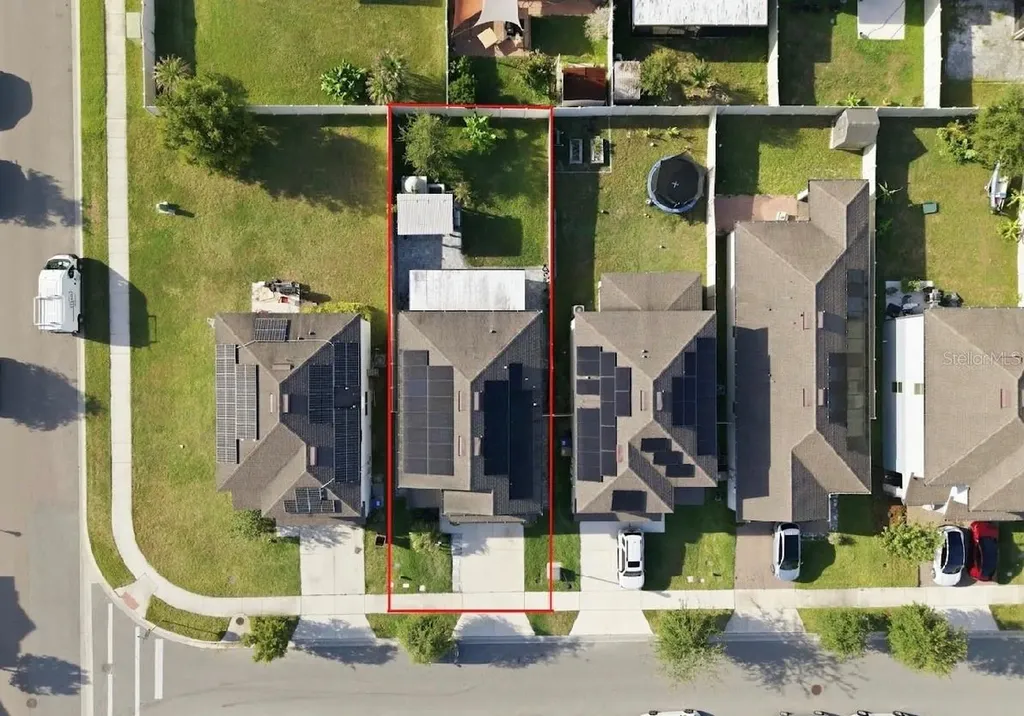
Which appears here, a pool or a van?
van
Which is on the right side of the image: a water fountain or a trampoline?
trampoline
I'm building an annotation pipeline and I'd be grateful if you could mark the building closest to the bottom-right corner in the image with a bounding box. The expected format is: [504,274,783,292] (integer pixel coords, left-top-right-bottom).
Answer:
[884,307,1024,521]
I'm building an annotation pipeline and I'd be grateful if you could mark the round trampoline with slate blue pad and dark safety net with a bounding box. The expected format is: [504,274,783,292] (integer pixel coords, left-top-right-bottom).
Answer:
[648,147,709,213]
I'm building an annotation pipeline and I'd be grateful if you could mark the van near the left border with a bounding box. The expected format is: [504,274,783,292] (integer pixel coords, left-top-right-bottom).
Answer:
[31,257,84,335]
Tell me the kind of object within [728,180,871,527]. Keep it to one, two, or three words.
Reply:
house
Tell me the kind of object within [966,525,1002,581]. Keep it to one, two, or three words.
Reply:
car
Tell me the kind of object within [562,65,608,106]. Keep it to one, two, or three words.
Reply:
shed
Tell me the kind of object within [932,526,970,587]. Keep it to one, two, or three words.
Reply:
car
